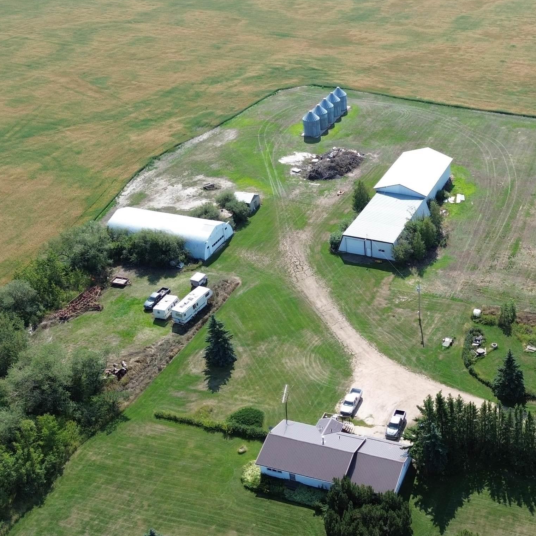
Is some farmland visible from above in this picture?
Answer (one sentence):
Yes, the picture does contain farmland.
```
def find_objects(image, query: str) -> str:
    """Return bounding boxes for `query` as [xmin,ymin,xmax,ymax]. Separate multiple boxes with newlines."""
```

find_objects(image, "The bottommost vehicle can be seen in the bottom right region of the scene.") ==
[387,409,406,442]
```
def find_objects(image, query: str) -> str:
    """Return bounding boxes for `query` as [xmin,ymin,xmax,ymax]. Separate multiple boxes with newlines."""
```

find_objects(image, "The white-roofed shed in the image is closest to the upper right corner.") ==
[374,148,450,216]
